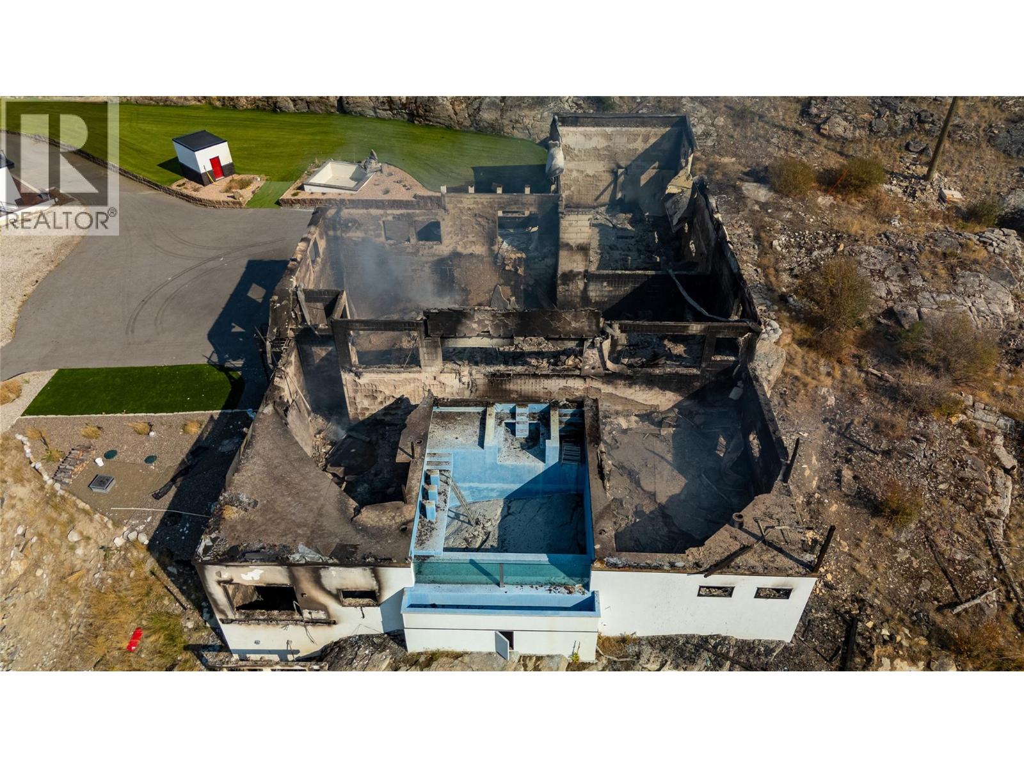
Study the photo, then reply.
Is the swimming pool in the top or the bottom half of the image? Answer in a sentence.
The bottom half of the photo is where the swimming pool is.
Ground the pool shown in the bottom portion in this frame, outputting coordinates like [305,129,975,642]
[400,404,602,661]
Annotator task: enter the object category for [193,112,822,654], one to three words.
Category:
house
